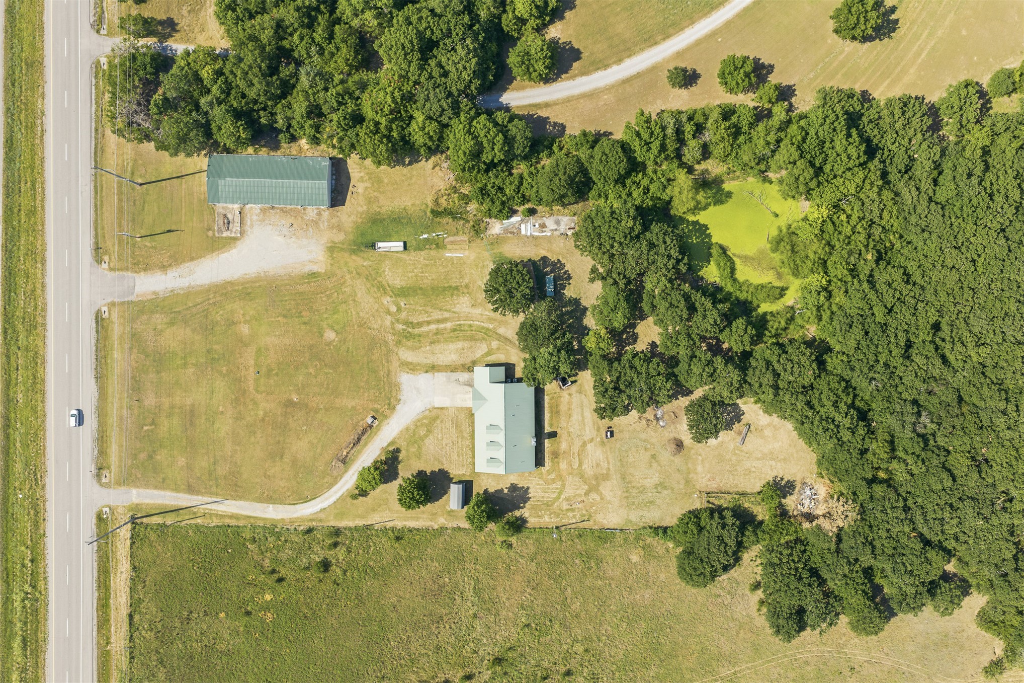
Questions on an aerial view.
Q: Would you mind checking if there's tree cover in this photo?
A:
Yes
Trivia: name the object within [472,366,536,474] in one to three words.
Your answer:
house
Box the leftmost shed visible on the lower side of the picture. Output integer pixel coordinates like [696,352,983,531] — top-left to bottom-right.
[451,482,465,510]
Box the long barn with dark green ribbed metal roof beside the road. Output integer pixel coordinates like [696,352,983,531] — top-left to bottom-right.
[206,153,331,208]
